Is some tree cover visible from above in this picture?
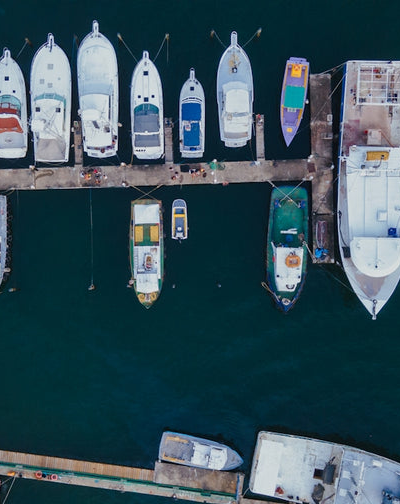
No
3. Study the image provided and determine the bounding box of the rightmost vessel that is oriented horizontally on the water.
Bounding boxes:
[247,428,400,504]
